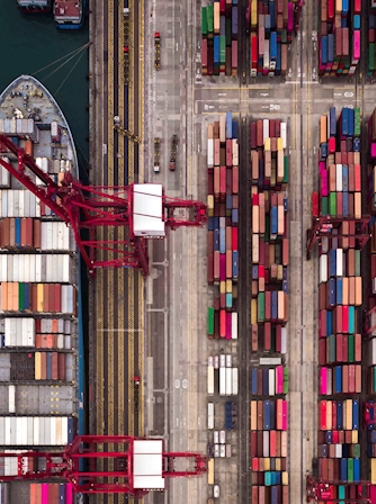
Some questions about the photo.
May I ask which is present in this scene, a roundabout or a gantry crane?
gantry crane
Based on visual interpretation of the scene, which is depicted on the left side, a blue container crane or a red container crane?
red container crane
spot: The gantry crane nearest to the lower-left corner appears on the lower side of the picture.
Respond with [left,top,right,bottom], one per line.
[0,428,208,495]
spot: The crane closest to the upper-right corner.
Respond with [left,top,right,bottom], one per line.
[308,212,372,252]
